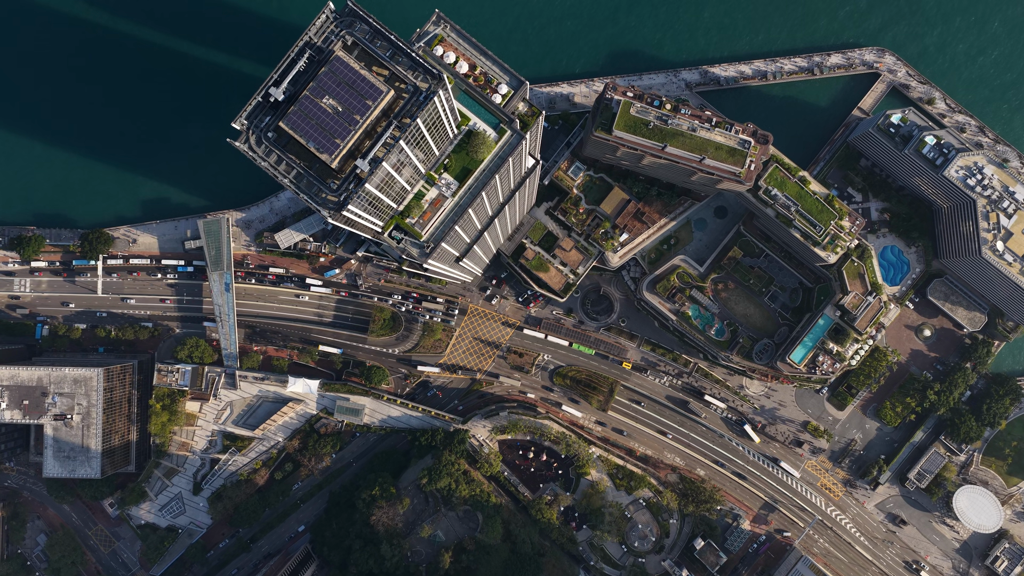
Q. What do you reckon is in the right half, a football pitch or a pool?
pool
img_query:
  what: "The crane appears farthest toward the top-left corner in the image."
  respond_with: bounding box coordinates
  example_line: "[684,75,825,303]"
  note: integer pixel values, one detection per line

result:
[271,51,314,105]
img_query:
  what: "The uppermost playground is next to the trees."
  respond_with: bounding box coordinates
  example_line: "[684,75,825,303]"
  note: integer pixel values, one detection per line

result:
[496,438,576,496]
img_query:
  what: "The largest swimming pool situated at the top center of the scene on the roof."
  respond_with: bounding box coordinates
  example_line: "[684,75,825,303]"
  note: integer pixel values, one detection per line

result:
[449,82,505,133]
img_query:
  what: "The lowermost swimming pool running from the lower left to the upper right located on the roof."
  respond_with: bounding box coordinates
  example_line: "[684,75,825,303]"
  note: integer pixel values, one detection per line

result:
[784,311,837,367]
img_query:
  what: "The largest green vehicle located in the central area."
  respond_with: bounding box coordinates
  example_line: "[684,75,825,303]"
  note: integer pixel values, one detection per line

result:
[571,343,597,355]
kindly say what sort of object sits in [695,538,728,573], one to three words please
house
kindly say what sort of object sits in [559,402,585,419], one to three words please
vehicle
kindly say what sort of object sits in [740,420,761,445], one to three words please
bus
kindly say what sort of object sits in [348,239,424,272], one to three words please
building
